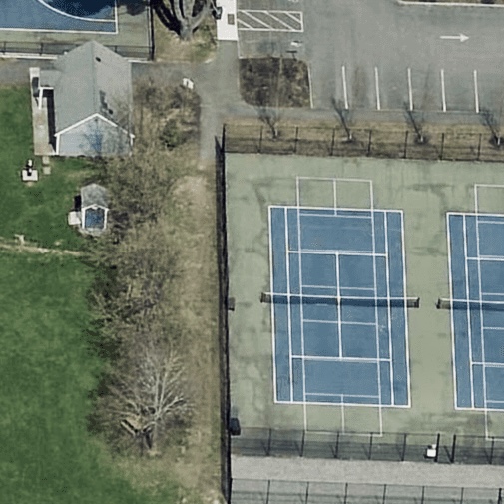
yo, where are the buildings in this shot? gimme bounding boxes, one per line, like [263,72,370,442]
[40,42,136,158]
[82,184,110,234]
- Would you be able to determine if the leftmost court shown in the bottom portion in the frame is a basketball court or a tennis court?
tennis court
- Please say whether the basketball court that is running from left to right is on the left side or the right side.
left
